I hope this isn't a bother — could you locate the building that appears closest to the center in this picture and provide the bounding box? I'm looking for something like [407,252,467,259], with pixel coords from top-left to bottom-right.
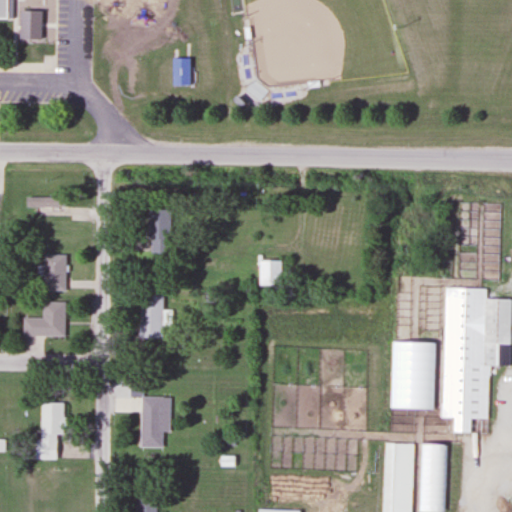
[258,254,282,287]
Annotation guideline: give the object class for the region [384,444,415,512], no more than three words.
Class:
shed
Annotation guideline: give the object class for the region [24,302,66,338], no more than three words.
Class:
house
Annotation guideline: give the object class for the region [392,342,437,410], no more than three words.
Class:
greenhouse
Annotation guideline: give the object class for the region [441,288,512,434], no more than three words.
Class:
barn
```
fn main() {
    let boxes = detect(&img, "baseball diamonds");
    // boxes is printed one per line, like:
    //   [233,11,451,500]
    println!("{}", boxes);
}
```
[249,0,408,86]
